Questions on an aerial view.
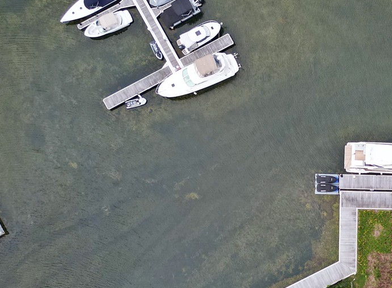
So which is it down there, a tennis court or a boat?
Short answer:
boat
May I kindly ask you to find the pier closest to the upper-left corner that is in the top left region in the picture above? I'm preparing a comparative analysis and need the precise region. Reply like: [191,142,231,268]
[78,0,134,30]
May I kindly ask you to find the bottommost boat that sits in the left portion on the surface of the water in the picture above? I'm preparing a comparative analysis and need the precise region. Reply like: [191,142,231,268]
[125,98,146,111]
